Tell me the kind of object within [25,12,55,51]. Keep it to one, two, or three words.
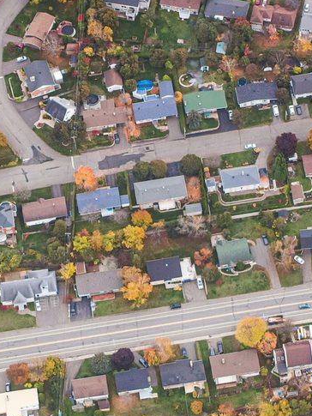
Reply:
house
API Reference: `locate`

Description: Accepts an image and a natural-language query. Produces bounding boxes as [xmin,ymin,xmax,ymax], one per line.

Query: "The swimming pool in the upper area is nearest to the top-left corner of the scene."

[60,24,75,38]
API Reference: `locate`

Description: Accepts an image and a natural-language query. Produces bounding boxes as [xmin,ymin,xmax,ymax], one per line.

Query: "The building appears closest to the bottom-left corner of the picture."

[0,388,40,416]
